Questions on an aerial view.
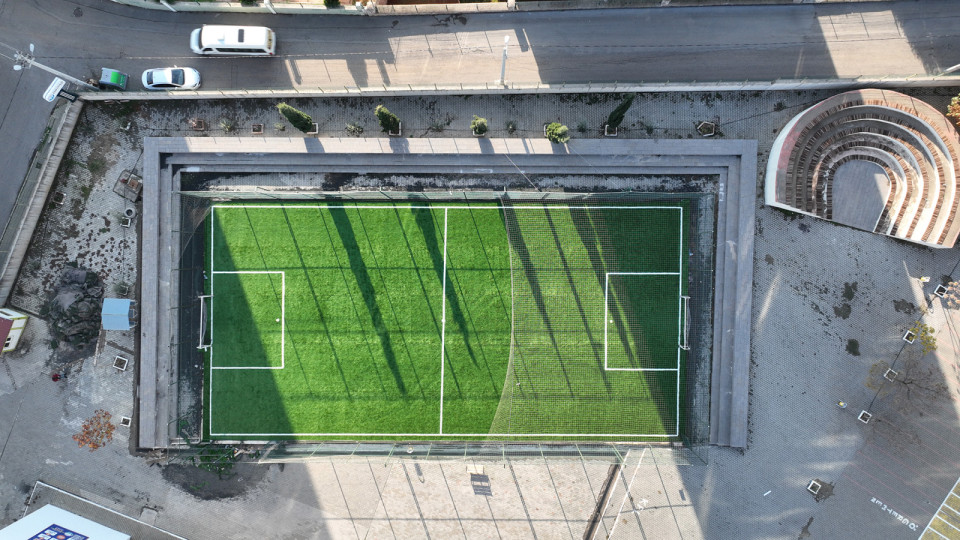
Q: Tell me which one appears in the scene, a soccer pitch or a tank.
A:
soccer pitch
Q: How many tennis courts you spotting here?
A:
0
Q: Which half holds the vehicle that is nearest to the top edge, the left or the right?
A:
left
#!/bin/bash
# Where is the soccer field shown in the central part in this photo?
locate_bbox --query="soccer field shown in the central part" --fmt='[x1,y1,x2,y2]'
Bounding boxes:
[203,199,687,445]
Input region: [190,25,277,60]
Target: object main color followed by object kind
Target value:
white vehicle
